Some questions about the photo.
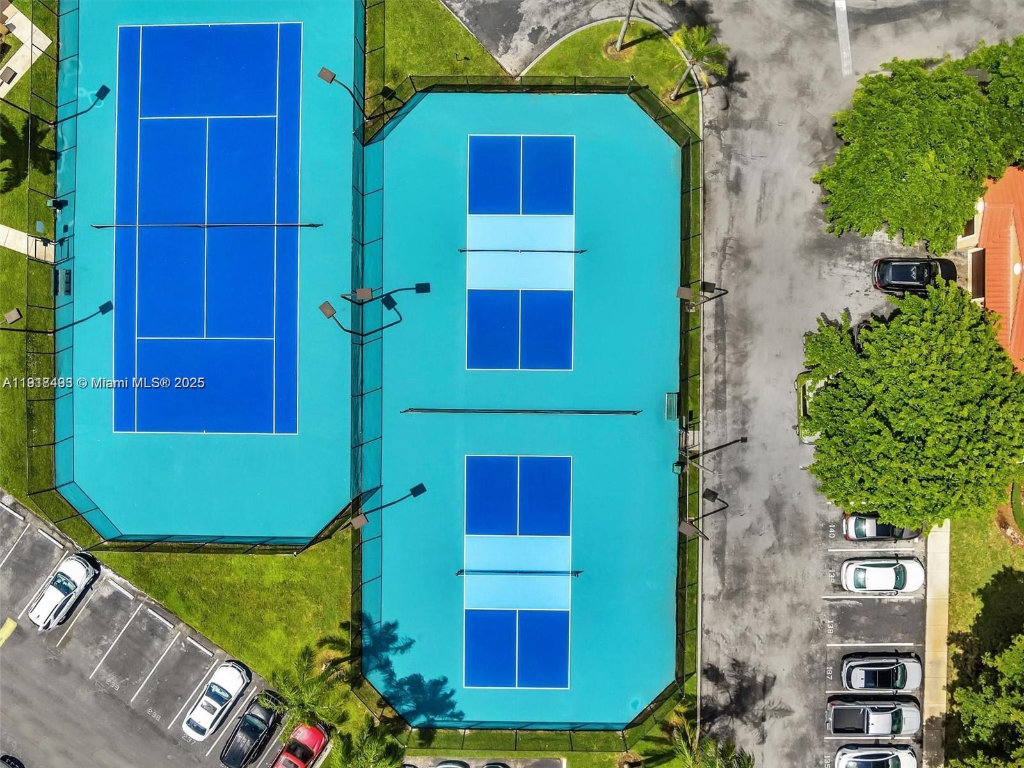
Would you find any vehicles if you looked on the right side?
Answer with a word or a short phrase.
Yes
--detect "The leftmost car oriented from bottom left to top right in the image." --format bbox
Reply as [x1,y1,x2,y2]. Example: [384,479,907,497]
[24,553,98,633]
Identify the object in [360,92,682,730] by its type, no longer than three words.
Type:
sports court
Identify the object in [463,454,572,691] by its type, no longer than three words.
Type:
sports court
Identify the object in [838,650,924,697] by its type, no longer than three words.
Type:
car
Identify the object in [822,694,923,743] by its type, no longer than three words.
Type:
truck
